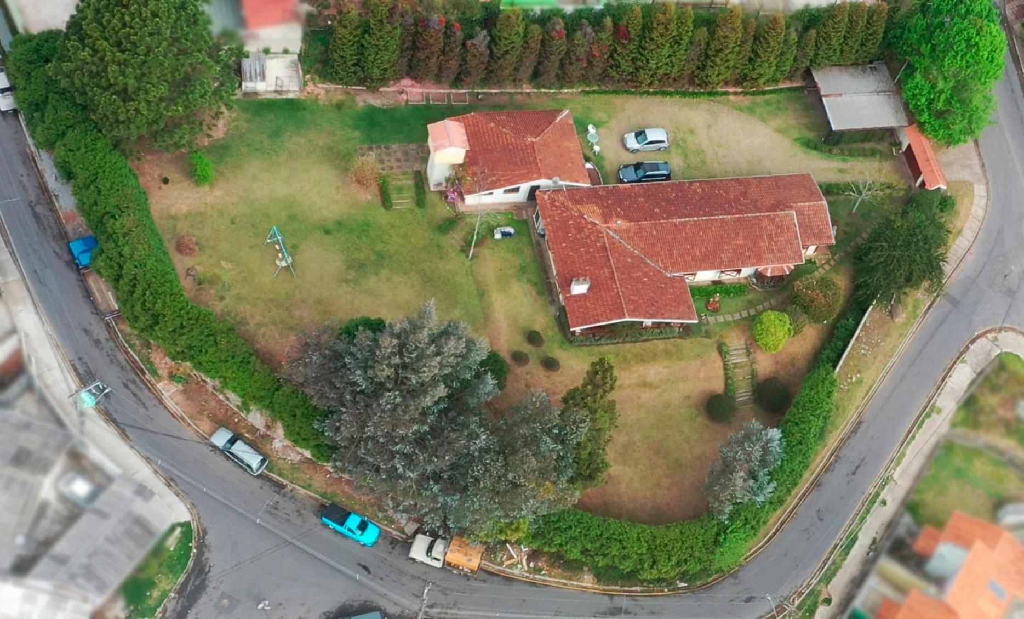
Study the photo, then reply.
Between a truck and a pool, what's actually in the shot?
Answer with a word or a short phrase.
truck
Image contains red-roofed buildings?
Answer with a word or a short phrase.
Yes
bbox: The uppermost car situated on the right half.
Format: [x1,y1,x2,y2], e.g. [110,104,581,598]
[620,127,673,156]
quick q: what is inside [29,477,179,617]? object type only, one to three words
house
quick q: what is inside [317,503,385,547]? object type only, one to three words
truck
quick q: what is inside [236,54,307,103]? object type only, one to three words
shed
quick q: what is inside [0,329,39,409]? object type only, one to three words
house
